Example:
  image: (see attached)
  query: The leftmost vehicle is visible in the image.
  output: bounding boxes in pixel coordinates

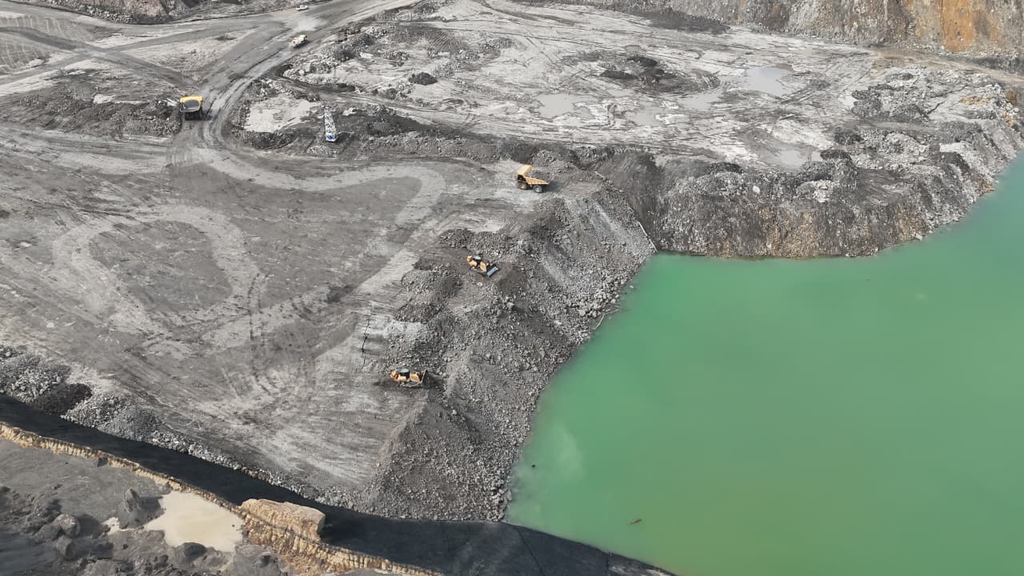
[177,90,200,121]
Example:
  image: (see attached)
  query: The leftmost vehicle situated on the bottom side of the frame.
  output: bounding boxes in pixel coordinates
[392,367,432,391]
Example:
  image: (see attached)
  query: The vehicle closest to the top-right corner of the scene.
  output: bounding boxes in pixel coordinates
[515,163,553,193]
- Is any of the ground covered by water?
Yes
